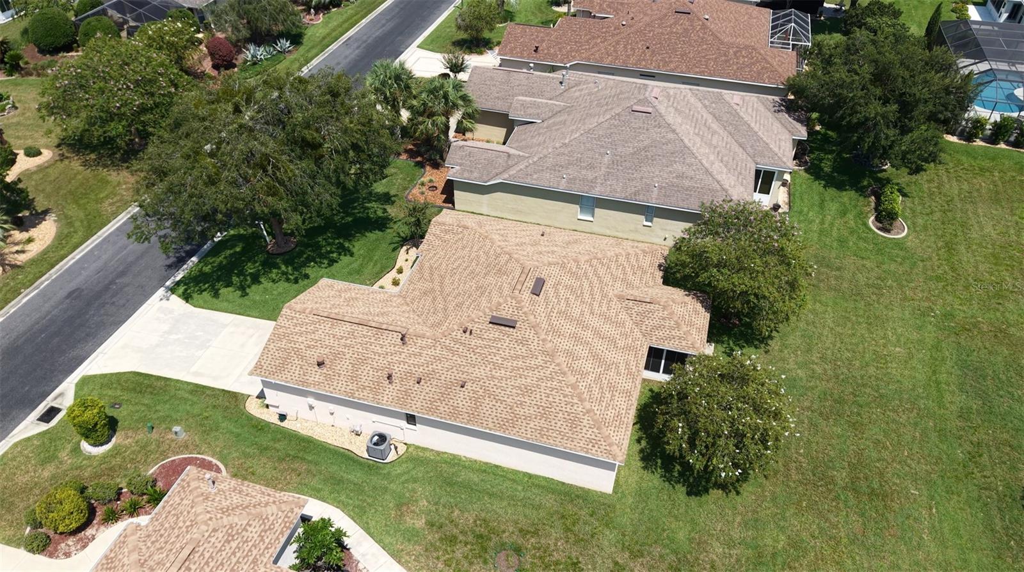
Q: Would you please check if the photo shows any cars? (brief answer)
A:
No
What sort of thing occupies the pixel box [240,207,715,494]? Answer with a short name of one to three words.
house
